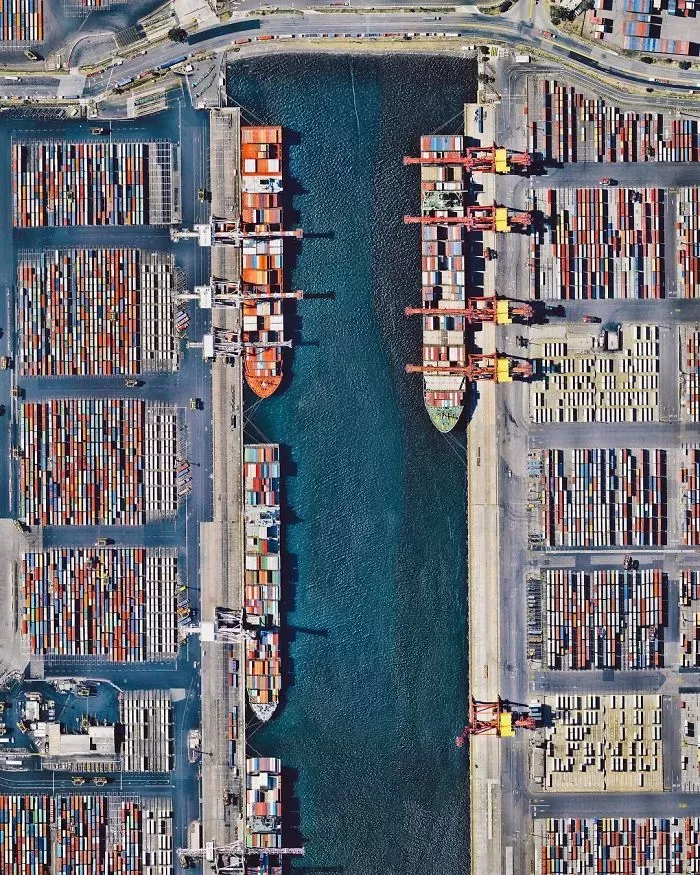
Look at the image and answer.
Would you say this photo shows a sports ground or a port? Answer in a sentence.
The picture captures a port.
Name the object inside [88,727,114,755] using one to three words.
building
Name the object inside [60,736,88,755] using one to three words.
building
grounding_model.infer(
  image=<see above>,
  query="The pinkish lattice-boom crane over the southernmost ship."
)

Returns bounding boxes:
[182,837,311,875]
